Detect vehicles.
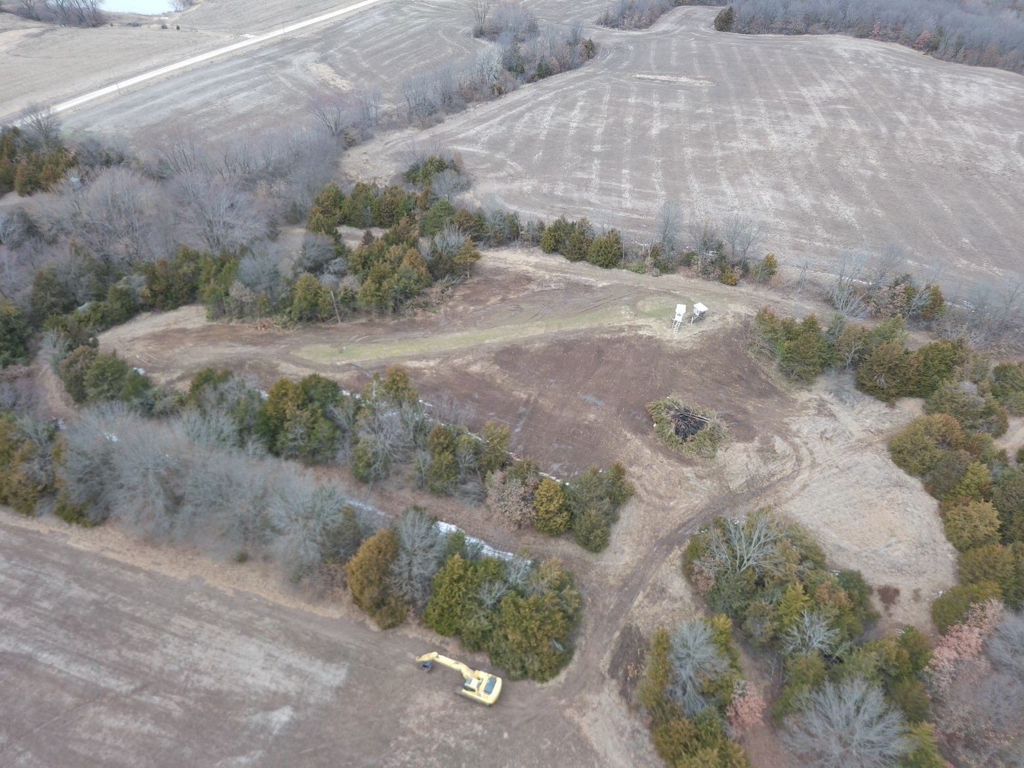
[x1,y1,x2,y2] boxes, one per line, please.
[414,650,501,712]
